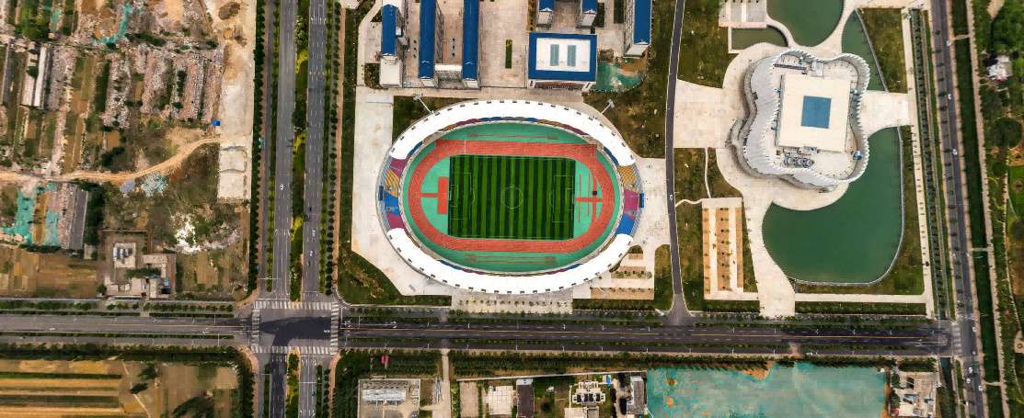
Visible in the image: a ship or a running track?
running track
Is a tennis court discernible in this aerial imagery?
No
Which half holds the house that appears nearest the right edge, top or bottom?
top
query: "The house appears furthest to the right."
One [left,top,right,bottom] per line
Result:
[982,56,1012,82]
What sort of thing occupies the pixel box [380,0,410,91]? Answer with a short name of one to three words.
building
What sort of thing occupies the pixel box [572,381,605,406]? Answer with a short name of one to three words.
house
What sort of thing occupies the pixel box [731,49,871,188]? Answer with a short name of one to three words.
building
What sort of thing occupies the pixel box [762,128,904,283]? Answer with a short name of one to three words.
pond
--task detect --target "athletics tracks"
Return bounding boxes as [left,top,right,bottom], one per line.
[403,122,620,271]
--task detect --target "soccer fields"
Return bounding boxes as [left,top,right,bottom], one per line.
[448,156,575,238]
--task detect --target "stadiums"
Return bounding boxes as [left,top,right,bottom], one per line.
[378,99,645,294]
